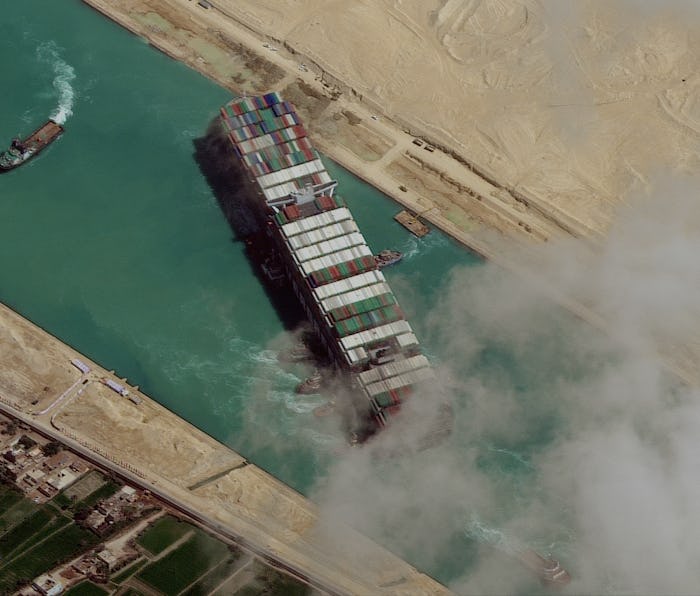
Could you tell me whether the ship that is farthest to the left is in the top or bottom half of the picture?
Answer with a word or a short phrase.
top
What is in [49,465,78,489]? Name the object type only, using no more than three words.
house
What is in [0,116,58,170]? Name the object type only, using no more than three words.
ship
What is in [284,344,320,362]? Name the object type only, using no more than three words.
boat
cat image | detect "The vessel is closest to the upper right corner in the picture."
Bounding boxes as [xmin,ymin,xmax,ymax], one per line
[394,207,429,236]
